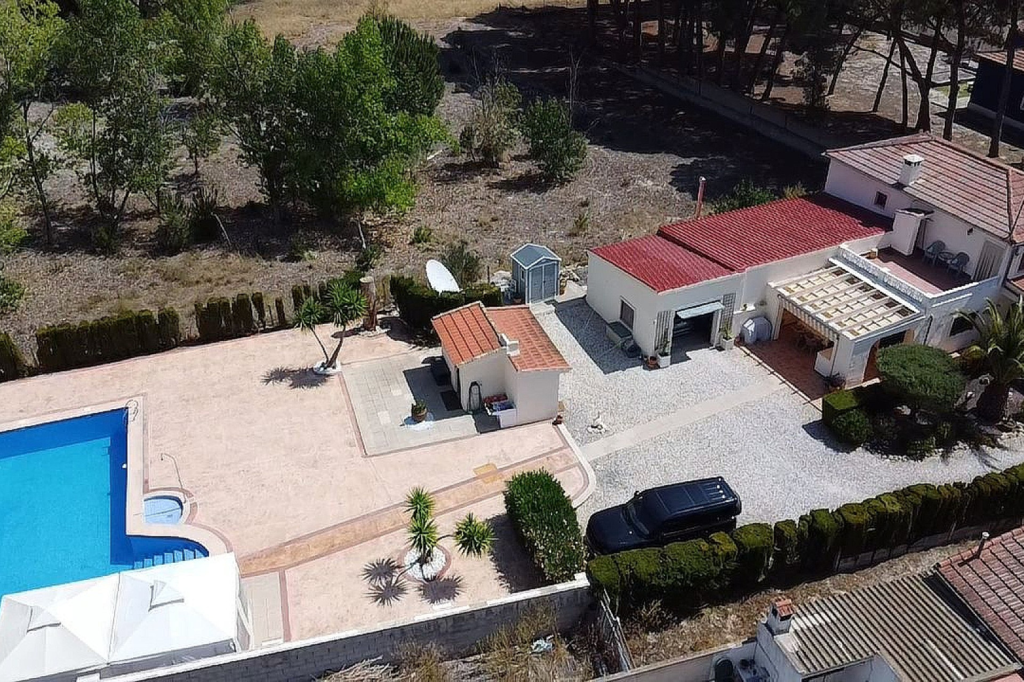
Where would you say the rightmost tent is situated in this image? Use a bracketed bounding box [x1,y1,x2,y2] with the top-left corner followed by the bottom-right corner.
[119,553,256,682]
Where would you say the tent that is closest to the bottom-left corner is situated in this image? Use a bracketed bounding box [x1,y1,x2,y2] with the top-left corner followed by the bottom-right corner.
[0,577,121,682]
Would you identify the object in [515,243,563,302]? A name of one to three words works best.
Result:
shed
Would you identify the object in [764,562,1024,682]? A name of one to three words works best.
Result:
shed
